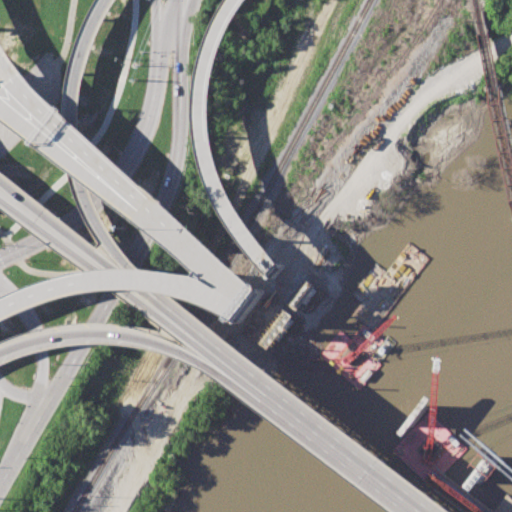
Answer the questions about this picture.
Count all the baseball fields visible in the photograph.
0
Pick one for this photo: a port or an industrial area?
port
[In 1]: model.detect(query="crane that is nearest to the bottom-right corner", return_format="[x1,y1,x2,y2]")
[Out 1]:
[422,354,452,460]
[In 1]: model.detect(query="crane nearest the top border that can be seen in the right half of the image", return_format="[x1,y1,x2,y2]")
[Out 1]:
[322,316,398,370]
